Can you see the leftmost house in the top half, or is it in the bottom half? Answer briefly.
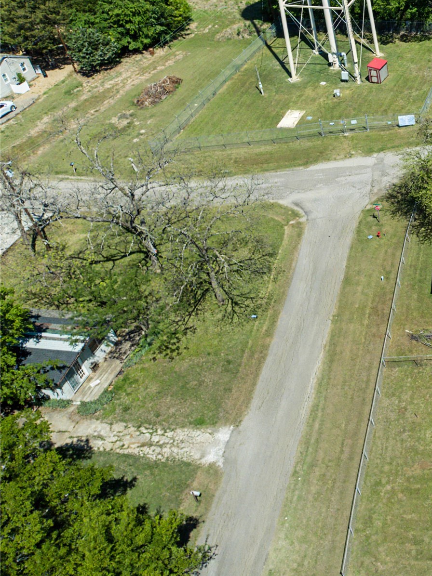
top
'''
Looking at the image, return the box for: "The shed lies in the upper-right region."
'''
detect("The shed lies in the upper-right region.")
[366,58,388,84]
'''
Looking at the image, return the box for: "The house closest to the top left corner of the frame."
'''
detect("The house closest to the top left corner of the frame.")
[0,52,38,98]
